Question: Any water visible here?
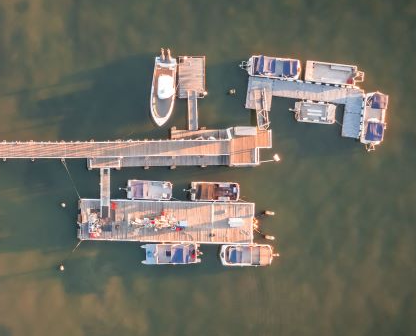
Yes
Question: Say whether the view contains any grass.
No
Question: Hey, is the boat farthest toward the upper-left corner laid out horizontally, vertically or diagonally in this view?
vertically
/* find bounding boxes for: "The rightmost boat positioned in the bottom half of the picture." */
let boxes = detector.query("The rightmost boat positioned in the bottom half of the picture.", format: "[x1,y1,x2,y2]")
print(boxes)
[220,243,280,266]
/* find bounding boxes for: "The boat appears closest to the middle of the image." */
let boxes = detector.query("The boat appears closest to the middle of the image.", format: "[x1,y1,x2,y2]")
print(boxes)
[183,182,240,201]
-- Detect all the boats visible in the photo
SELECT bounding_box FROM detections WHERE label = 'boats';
[140,243,204,266]
[304,60,363,86]
[220,243,280,266]
[240,54,304,79]
[289,101,336,121]
[152,48,177,126]
[183,182,240,201]
[358,94,389,152]
[119,180,173,200]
